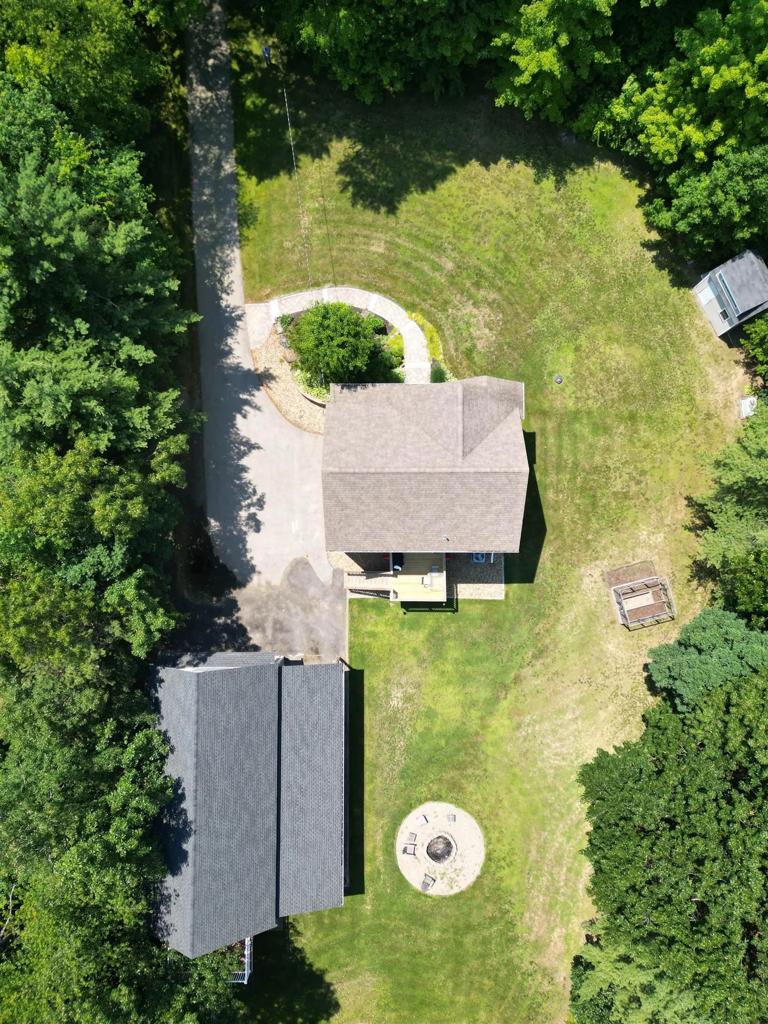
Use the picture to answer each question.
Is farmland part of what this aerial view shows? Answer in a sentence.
No, farmland can't be seen anywhere here.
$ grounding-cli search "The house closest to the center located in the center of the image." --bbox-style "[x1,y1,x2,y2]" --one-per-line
[320,370,528,554]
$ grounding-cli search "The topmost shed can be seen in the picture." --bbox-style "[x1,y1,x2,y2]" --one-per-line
[693,248,768,337]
